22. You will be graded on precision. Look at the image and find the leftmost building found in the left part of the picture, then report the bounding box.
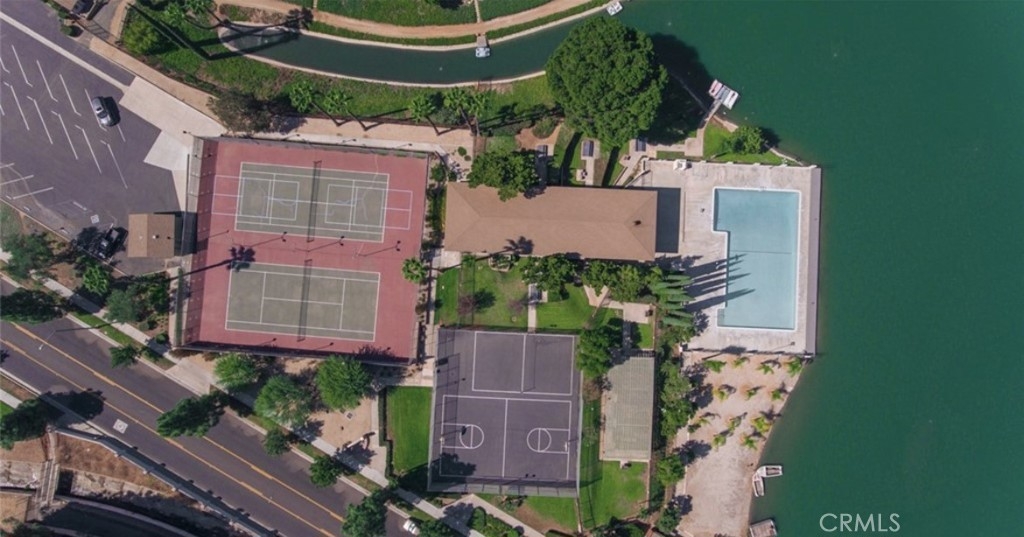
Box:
[128,214,182,258]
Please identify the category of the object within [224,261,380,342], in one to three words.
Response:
tennis court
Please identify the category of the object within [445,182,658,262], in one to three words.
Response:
building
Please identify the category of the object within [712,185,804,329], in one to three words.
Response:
swimming pool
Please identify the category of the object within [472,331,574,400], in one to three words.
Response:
sports court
